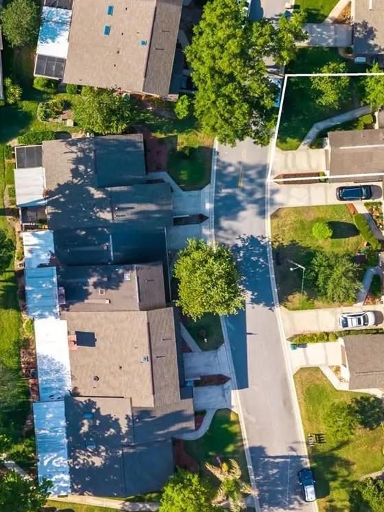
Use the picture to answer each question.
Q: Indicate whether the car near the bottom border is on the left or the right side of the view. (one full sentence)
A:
You can find the car near the bottom border on the right side of the picture.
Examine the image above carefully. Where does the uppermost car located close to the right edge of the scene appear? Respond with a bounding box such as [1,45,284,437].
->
[335,185,373,202]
